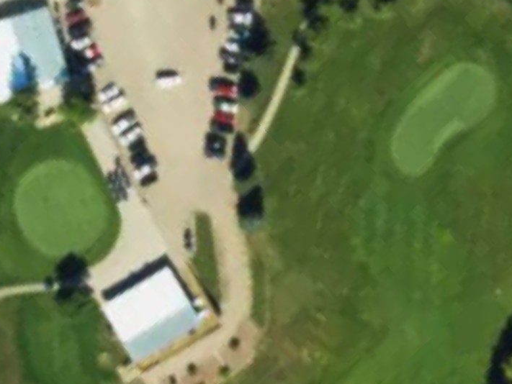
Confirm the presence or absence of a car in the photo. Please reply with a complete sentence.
Yes, a car can be made out from above.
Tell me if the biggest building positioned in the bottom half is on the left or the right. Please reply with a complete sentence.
It is on the left.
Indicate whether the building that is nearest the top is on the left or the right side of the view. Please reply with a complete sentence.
The building that is nearest the top sits on the left side.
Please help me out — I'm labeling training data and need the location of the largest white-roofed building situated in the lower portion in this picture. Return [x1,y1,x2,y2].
[102,260,221,383]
